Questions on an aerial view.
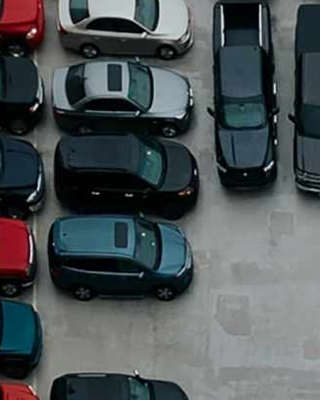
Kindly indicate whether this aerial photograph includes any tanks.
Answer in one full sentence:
No, I can see no tank in this picture.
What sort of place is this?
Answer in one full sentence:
It's a parking lot.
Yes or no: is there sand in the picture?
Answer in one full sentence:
No, sand can't be seen anywhere here.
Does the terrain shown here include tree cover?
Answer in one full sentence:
No, no tree cover is visible.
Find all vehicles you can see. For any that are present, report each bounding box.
[289,6,320,196]
[48,371,190,400]
[45,214,196,300]
[49,53,196,136]
[0,58,46,135]
[0,133,49,217]
[208,2,279,190]
[55,0,196,59]
[0,0,46,58]
[0,303,44,378]
[51,130,201,218]
[0,222,40,297]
